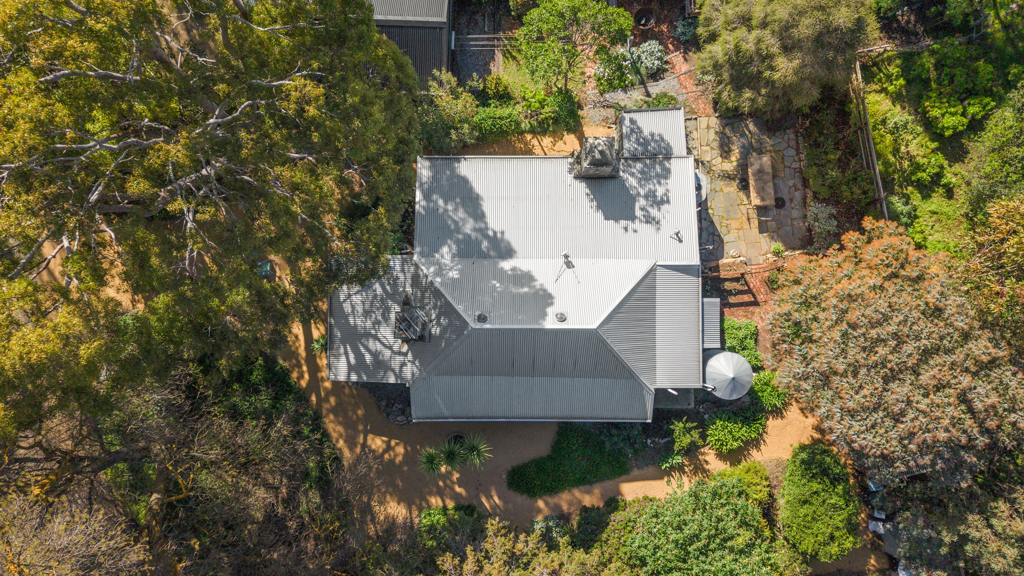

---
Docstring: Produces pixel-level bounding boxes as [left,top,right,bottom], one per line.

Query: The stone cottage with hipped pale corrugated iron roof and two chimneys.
[328,104,720,425]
